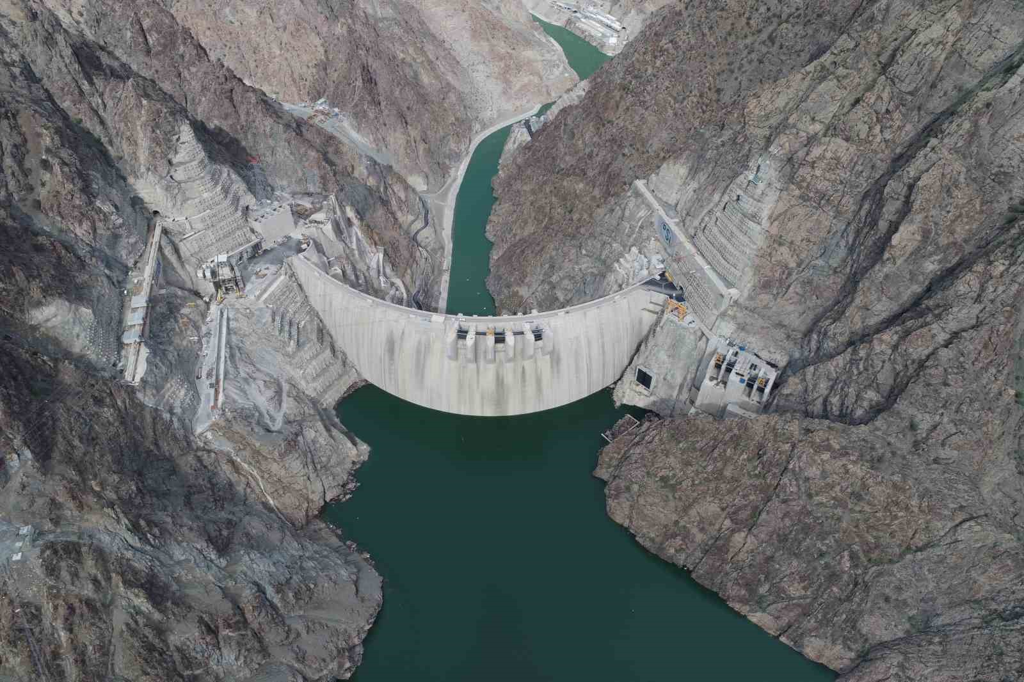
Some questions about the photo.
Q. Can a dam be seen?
Yes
